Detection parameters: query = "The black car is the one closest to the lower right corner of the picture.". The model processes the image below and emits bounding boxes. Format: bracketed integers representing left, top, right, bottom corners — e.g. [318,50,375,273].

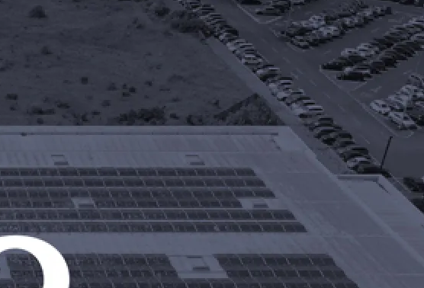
[398,179,424,195]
